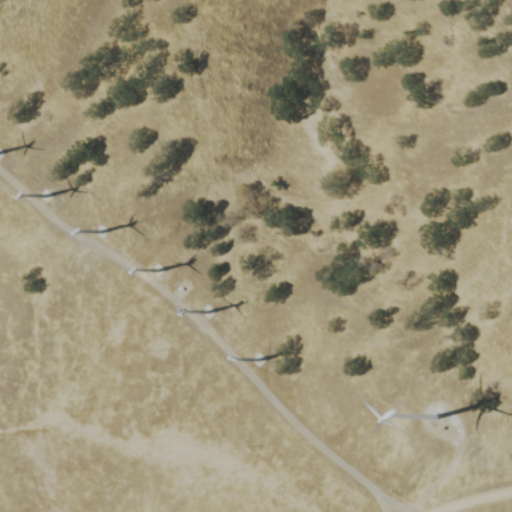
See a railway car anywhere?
No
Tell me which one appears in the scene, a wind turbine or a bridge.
wind turbine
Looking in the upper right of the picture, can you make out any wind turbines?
No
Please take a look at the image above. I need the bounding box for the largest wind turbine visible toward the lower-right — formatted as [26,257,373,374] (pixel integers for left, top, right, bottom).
[356,390,442,447]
